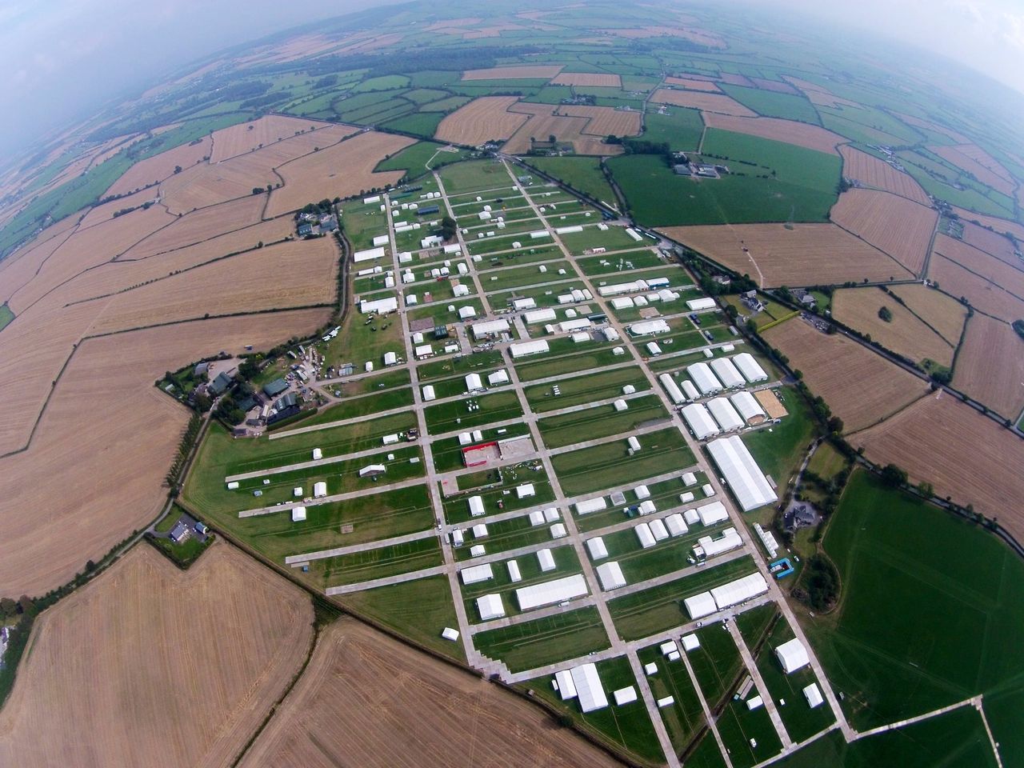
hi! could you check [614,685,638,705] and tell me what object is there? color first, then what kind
white tent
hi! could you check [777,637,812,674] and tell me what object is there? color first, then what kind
white tent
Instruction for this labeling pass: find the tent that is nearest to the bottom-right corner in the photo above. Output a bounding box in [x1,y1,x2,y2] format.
[804,681,826,708]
